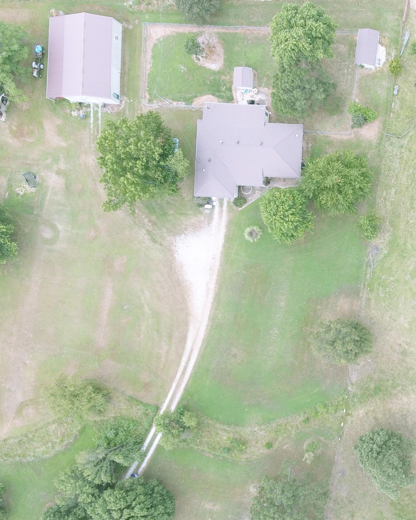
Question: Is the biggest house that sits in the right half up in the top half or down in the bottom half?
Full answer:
It is in the top half that the biggest house that sits in the right half appears.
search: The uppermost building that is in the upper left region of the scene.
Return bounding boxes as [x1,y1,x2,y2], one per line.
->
[46,12,121,103]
